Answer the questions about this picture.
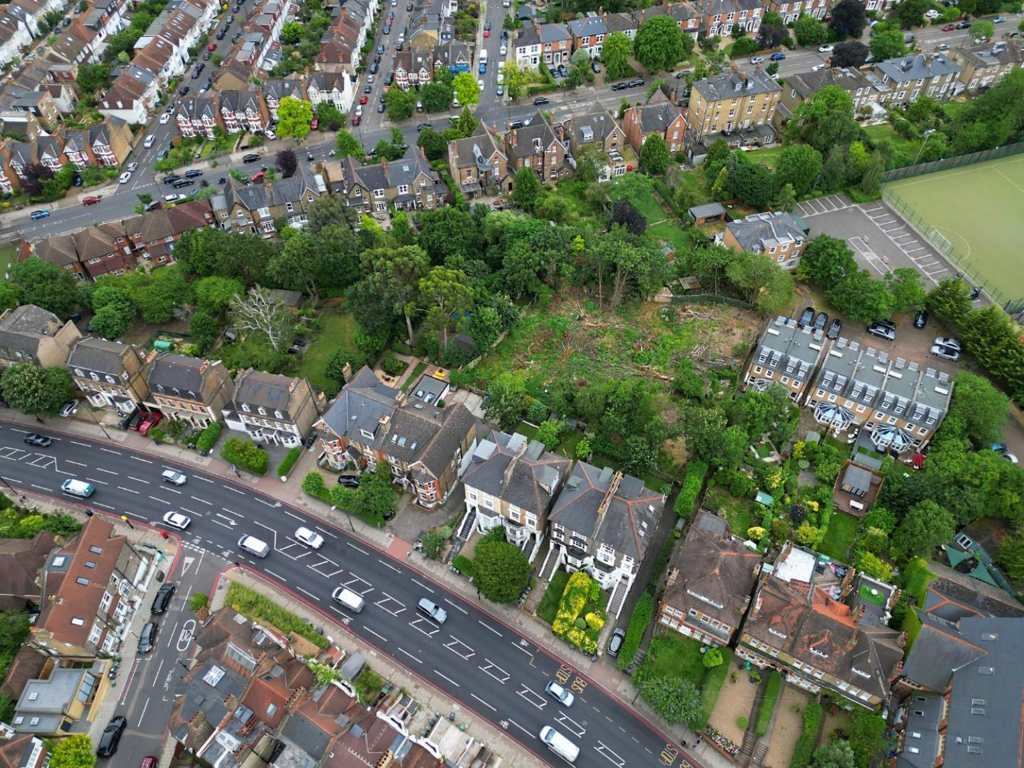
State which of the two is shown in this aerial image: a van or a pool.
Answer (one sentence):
The one in the frame is a van.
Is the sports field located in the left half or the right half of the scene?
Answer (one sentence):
The sports field appears in the right half of the scene.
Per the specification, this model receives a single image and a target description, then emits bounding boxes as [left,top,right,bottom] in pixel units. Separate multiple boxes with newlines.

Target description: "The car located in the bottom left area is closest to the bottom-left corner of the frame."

[100,718,125,758]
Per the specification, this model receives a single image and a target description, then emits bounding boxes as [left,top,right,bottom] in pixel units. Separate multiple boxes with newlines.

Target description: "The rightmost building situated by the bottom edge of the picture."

[874,562,1024,768]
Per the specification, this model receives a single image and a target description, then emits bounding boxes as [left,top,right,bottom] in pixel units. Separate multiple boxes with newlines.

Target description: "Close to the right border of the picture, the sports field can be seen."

[885,153,1024,308]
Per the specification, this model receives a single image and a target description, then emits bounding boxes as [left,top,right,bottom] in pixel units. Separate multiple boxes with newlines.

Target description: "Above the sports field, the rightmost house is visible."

[946,33,1024,91]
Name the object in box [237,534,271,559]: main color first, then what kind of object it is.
white vehicle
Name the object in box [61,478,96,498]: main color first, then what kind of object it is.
white vehicle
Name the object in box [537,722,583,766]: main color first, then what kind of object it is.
white van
